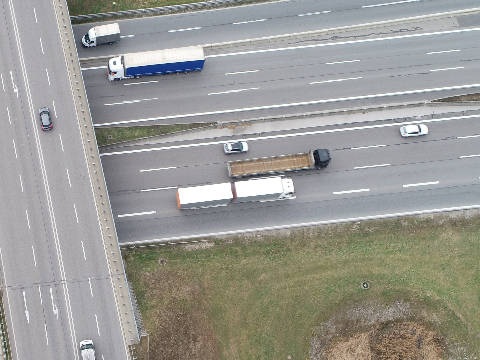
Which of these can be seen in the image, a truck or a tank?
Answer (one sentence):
I can see a truck in this picture.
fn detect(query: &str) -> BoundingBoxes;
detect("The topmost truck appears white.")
[82,24,120,47]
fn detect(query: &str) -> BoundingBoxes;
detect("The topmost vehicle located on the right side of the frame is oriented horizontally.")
[400,122,429,137]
